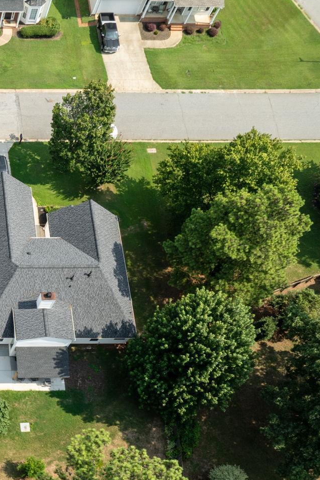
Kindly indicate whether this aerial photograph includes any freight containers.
No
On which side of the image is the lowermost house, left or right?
left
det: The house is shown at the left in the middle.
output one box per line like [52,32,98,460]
[0,173,136,384]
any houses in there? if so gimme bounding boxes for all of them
[0,173,136,384]
[0,0,59,32]
[87,0,225,29]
